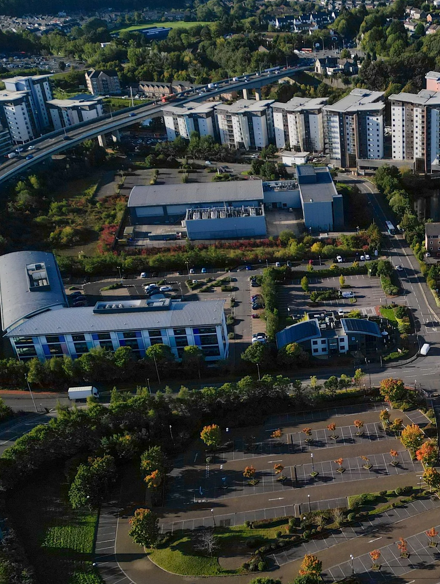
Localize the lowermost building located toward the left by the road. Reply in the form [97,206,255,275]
[0,248,230,365]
